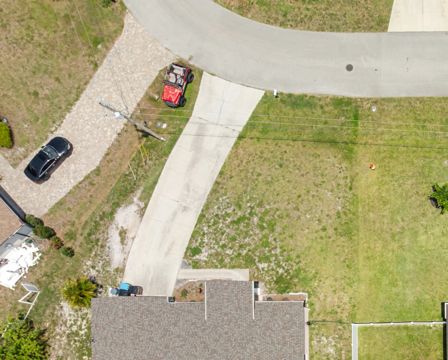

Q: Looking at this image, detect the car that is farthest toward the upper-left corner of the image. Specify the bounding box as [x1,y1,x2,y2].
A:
[23,137,74,184]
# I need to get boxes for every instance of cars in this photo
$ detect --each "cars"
[23,137,74,184]
[162,60,196,110]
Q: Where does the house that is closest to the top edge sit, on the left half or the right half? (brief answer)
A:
left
